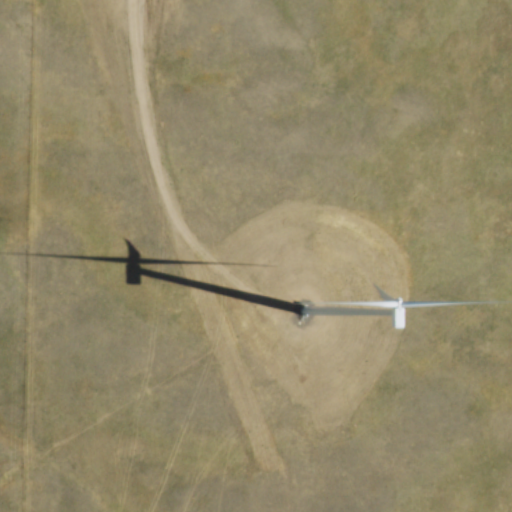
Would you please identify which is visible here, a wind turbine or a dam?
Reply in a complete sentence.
There is a wind turbine in the scene.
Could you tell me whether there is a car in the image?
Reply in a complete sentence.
No, there appears to be no car in this shot.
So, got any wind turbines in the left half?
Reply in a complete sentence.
No, no wind turbine can be made out in the left half.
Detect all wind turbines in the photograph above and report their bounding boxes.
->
[296,282,498,328]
